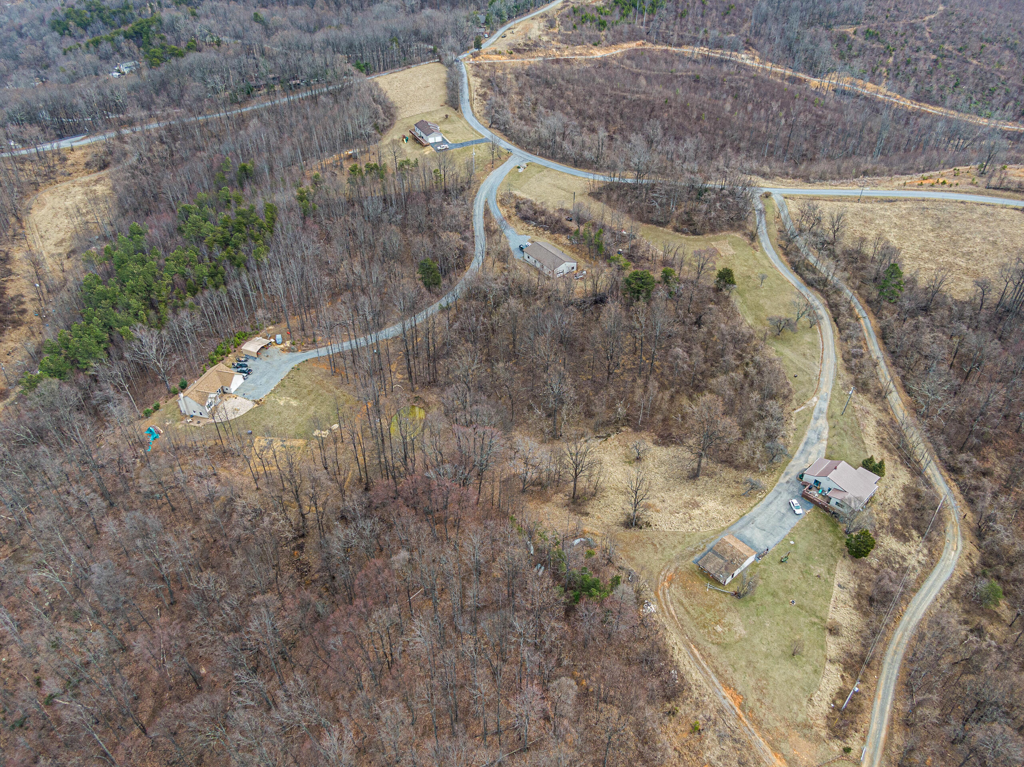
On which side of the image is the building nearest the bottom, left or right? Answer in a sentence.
The building nearest the bottom appears in the right half of the scene.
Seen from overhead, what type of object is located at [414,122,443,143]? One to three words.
house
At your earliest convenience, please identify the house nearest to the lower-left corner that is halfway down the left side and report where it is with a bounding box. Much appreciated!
[173,361,244,419]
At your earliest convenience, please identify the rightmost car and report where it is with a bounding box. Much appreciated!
[788,497,805,514]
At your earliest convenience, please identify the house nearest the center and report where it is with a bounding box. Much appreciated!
[523,242,578,278]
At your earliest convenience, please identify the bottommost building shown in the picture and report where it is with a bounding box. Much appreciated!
[698,533,758,588]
